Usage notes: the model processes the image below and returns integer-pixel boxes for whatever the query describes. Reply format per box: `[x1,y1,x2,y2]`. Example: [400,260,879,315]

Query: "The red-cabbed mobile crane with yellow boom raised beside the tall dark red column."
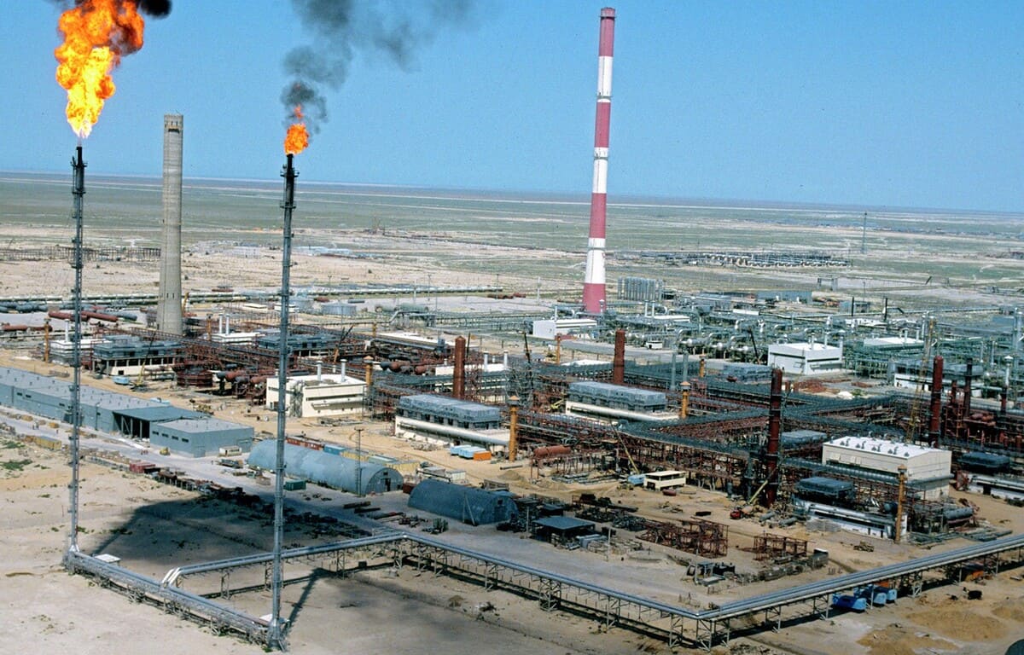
[724,475,779,519]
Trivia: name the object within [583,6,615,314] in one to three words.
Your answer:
chimney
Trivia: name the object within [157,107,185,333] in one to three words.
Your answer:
chimney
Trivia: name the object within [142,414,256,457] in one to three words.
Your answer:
building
